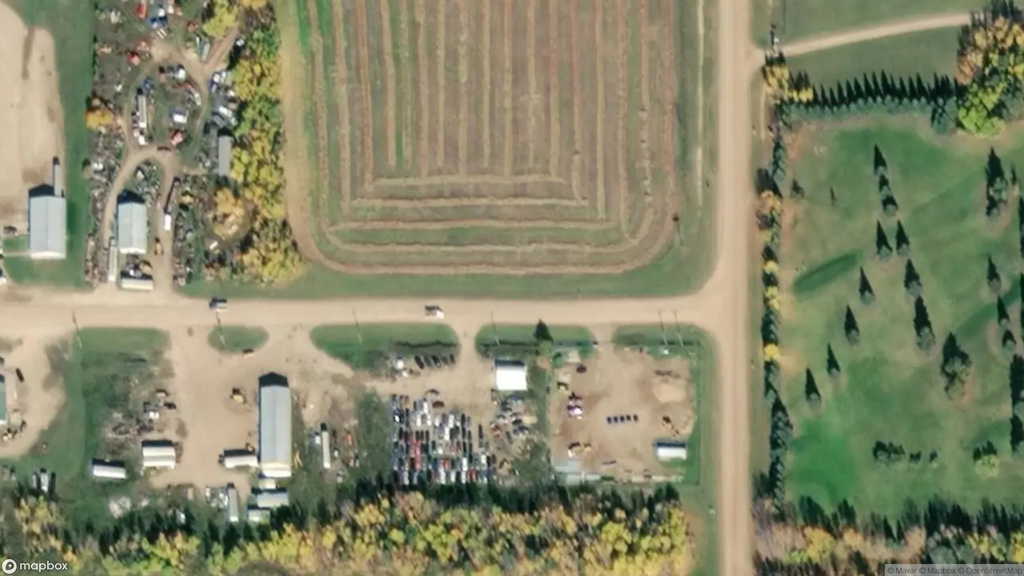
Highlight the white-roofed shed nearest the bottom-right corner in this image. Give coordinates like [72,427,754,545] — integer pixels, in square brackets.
[657,448,687,460]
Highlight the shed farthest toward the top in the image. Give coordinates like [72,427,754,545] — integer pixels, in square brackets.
[217,137,234,178]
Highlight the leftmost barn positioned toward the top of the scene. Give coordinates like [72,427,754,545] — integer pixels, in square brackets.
[27,197,69,259]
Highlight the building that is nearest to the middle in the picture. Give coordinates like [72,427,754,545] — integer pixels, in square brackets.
[495,368,528,390]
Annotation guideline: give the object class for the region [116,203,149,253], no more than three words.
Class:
barn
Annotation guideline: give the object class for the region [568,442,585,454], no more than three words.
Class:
vehicle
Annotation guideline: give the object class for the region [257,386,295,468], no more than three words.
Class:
barn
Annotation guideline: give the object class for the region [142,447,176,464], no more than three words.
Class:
shed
